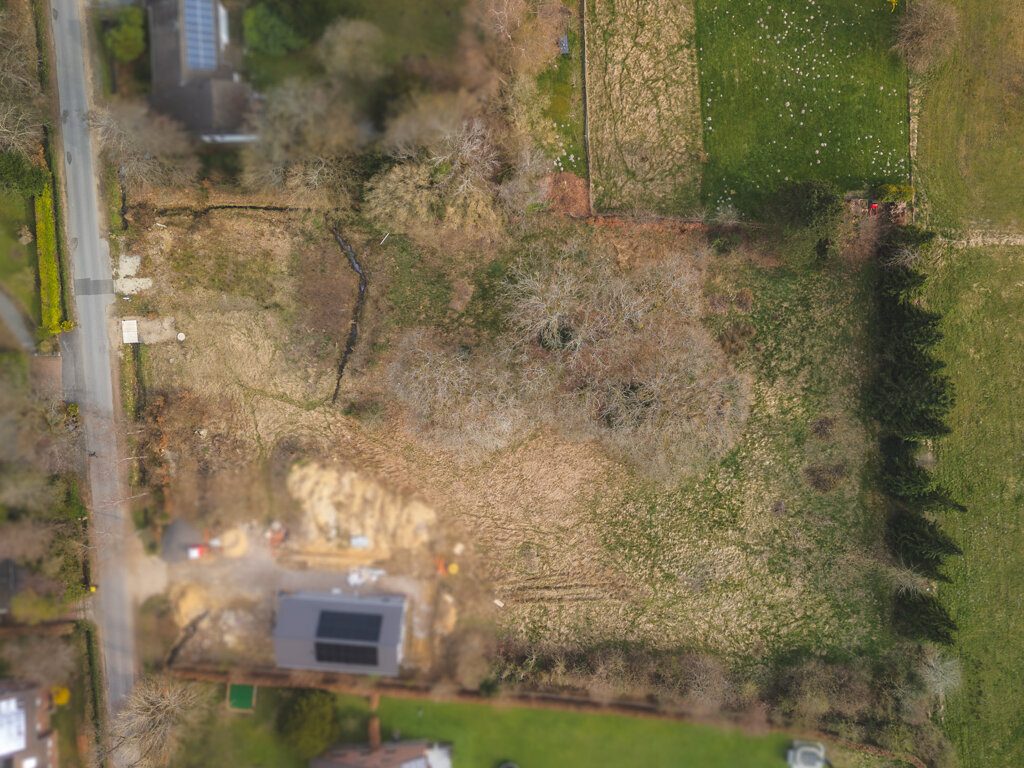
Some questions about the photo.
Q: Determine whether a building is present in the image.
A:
Yes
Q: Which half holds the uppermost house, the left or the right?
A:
left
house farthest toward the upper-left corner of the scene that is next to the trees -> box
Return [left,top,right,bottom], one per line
[153,0,265,151]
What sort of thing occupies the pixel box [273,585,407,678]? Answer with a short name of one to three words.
house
